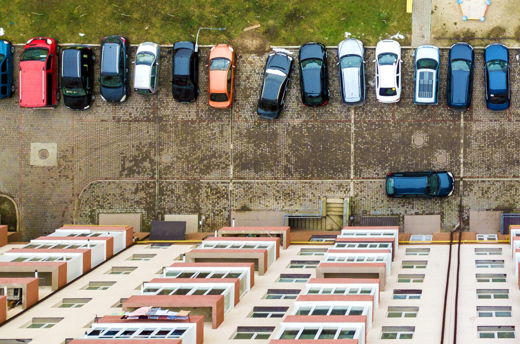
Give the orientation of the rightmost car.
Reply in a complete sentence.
I'd say the rightmost car is aligned vertically in the picture.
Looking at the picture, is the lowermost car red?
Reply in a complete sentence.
No, from above the lowermost car looks blue.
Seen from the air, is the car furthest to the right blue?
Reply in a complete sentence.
Yes, the car furthest to the right is indeed blue.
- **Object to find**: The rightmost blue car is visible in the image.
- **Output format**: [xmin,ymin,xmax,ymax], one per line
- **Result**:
[481,44,512,111]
